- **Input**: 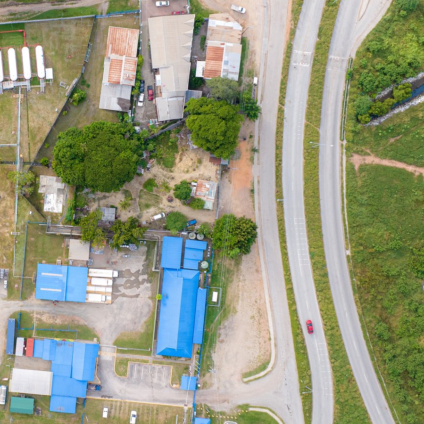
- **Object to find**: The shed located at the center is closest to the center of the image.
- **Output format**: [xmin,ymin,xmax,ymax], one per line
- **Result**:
[189,181,215,210]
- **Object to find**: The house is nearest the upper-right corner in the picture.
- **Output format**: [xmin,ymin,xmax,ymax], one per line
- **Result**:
[195,14,242,81]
